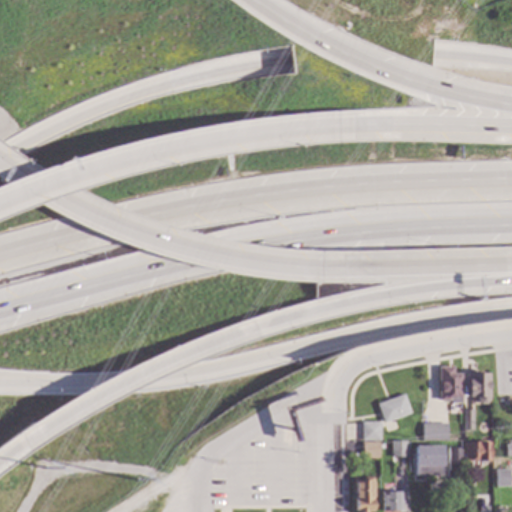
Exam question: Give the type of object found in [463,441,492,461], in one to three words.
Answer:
house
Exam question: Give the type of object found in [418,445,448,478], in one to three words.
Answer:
house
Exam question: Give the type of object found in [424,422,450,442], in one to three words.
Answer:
building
